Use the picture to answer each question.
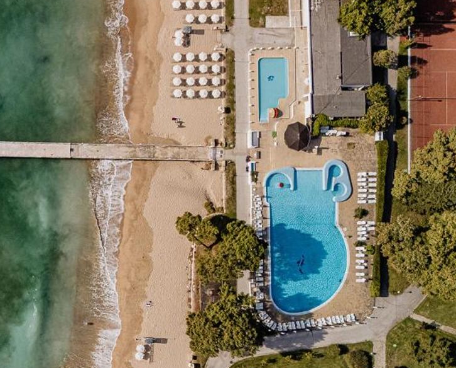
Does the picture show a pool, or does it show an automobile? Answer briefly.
pool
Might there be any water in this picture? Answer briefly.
Yes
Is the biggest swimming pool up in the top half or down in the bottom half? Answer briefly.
bottom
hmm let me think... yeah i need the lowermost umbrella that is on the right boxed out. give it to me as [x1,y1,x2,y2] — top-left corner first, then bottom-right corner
[283,124,309,150]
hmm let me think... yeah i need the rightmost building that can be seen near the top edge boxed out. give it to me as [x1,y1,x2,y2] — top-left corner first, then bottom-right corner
[302,0,372,119]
